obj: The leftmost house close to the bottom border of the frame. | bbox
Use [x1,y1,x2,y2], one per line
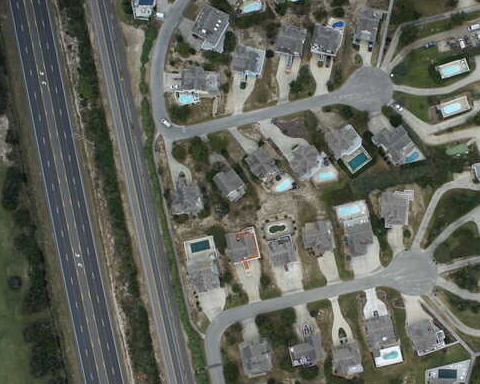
[239,340,272,377]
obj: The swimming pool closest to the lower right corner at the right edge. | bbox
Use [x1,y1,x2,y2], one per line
[427,359,471,384]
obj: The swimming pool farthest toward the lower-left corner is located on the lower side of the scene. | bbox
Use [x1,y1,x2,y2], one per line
[185,237,218,261]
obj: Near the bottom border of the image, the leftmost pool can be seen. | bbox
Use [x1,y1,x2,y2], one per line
[375,344,403,367]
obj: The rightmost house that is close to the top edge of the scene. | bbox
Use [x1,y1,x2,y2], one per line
[355,6,381,41]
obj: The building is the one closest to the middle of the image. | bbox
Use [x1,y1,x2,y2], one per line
[215,167,246,202]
